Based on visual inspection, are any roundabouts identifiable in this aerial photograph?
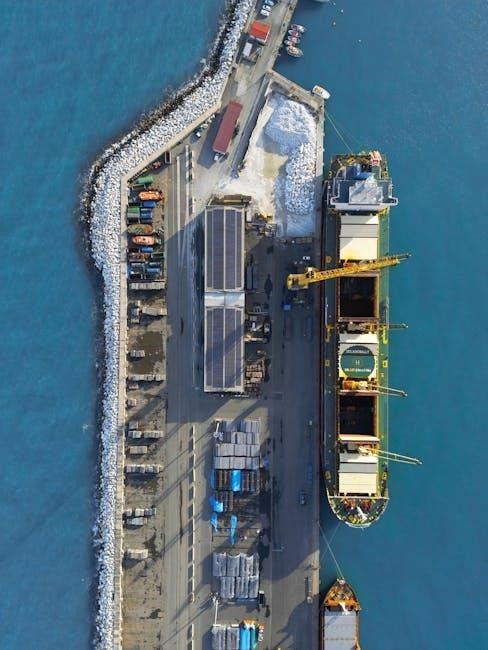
No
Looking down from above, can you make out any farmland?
No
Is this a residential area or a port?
port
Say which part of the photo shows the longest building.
center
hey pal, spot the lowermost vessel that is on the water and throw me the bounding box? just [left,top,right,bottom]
[319,580,362,650]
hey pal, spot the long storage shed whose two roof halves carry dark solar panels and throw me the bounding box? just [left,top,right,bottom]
[204,206,245,392]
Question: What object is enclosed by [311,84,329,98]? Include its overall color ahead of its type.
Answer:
white boat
